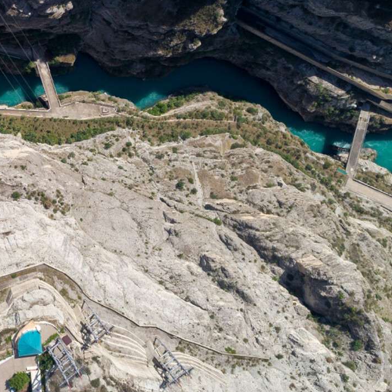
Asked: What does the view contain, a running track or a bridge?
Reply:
bridge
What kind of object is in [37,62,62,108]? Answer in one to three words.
bridge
